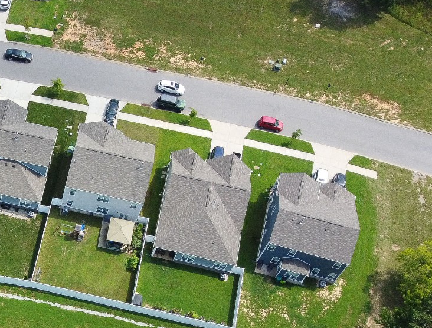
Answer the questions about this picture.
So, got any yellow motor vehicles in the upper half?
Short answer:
No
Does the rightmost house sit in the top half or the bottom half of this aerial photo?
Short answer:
bottom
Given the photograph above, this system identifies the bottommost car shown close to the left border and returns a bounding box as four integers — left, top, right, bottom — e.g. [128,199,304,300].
[5,47,34,63]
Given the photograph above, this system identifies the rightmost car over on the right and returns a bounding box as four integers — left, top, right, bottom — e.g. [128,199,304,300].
[333,170,349,186]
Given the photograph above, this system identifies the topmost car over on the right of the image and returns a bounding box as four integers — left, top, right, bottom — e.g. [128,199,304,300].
[256,113,286,132]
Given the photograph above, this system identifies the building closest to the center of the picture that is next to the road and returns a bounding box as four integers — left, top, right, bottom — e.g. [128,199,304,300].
[151,144,251,274]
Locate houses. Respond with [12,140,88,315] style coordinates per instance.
[0,99,59,212]
[256,173,360,287]
[61,120,155,224]
[151,144,251,274]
